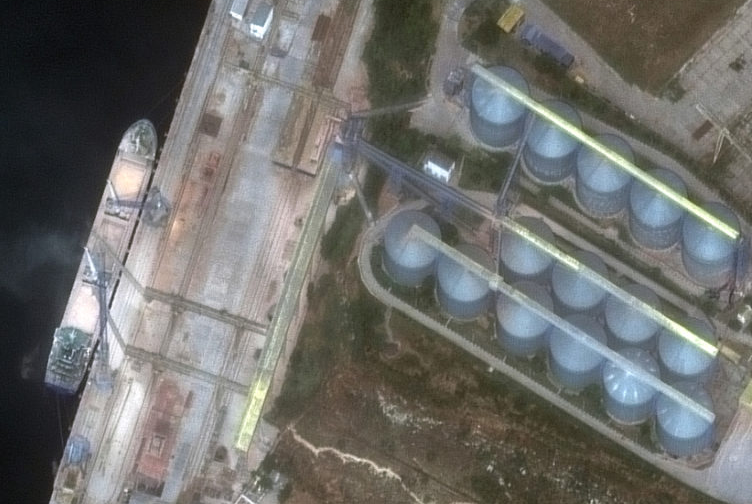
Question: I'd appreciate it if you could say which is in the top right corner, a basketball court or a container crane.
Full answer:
Visible in the top right corner is a container crane.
